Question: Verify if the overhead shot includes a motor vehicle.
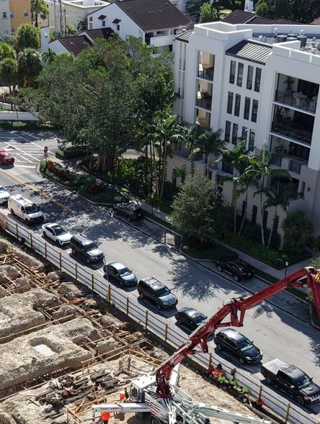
Yes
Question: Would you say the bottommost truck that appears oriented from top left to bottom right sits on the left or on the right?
right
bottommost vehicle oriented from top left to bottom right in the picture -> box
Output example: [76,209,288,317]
[261,363,320,411]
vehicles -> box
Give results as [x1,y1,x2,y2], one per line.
[92,263,320,424]
[68,235,107,267]
[135,280,179,313]
[41,225,73,249]
[0,184,8,205]
[261,363,320,411]
[213,330,264,369]
[170,306,206,334]
[99,263,141,291]
[0,152,18,168]
[5,192,43,224]
[219,258,263,283]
